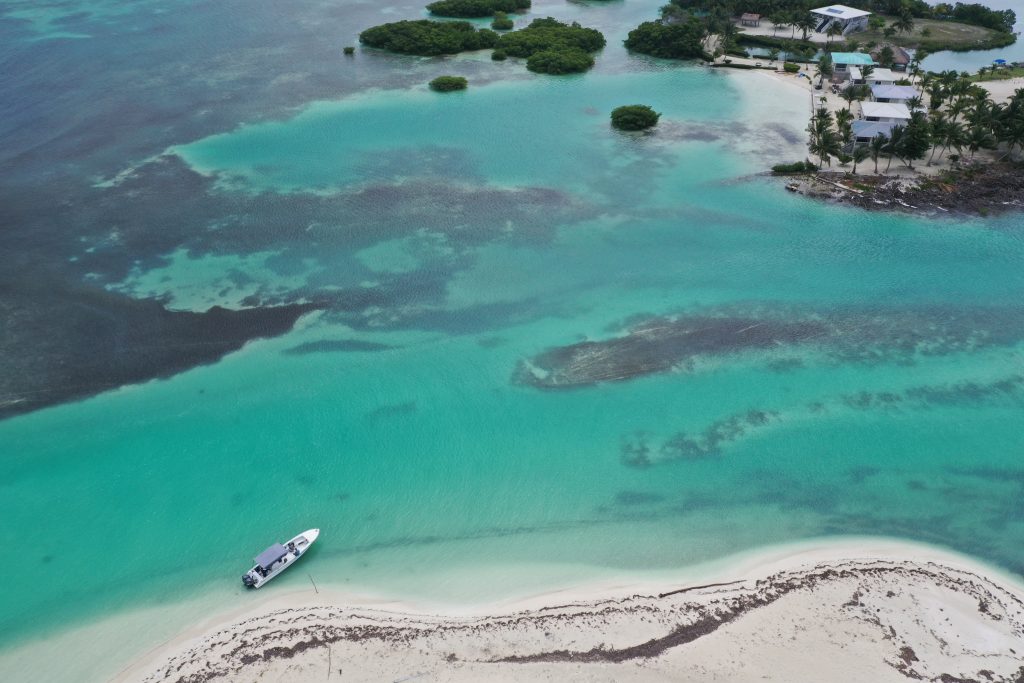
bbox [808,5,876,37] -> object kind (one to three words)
house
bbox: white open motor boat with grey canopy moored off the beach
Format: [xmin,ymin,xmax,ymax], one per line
[243,530,320,591]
